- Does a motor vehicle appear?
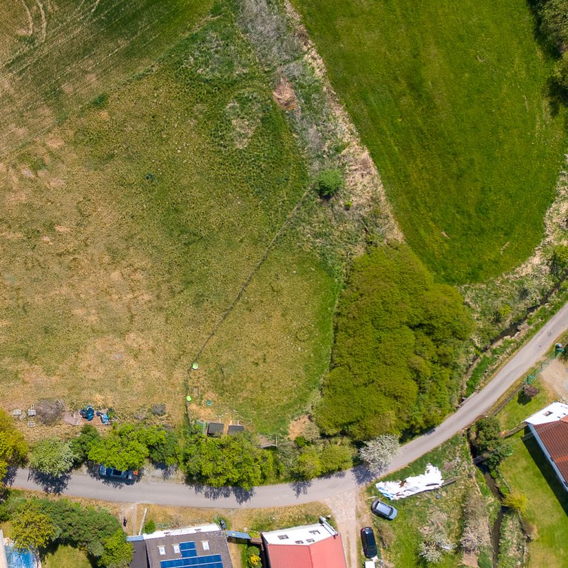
Yes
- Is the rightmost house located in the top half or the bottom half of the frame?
bottom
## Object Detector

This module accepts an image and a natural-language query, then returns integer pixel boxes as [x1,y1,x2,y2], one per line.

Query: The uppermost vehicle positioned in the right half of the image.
[370,498,399,521]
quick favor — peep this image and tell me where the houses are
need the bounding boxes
[525,404,568,494]
[259,524,347,568]
[144,525,233,568]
